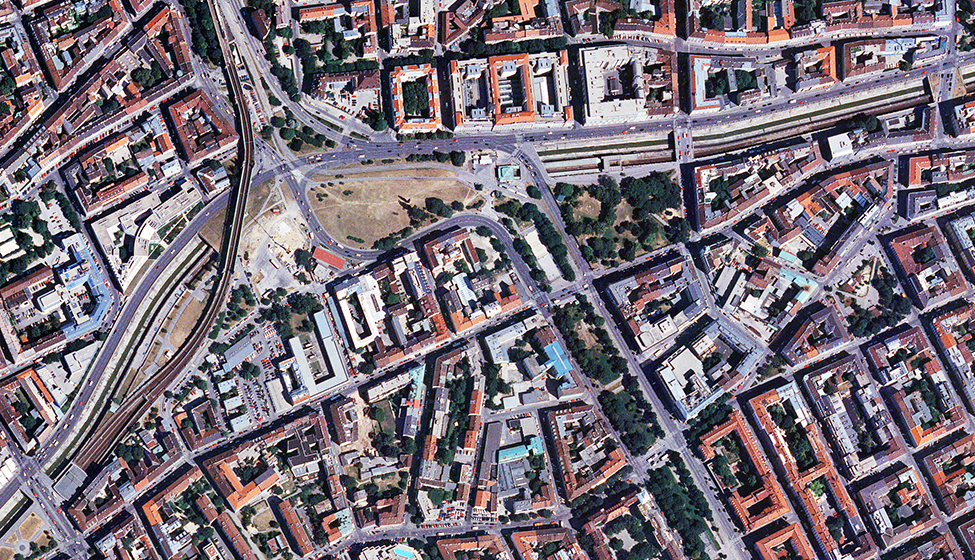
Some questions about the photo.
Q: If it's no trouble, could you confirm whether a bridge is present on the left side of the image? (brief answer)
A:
Yes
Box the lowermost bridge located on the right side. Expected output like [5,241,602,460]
[673,125,694,163]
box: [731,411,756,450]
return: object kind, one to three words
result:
house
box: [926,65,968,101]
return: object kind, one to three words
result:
bridge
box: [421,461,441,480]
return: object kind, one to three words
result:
building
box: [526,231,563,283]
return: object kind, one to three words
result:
sports court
